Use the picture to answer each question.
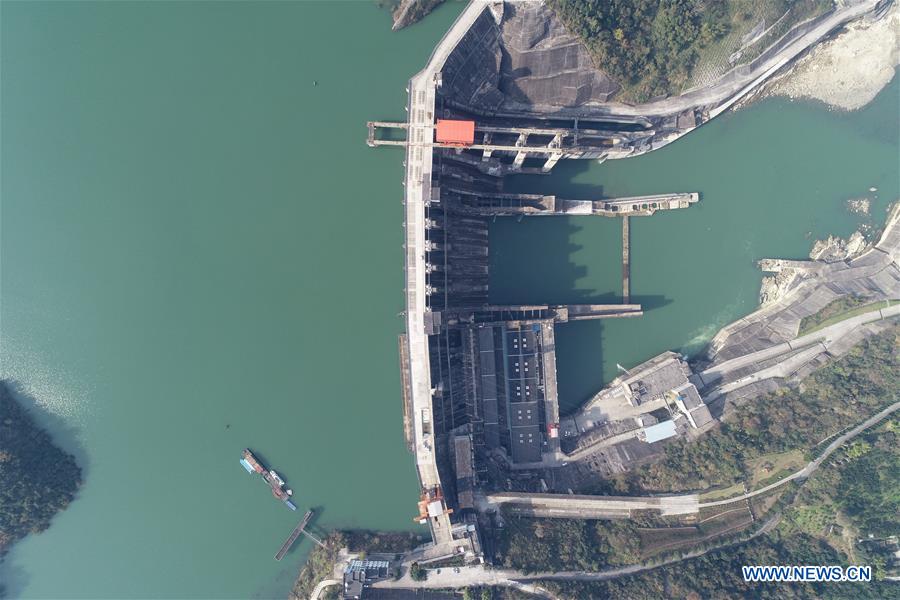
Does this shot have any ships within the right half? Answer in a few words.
No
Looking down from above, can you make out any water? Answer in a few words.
Yes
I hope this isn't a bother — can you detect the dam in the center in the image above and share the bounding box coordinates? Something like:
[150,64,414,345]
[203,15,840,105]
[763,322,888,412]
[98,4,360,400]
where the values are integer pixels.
[399,0,504,548]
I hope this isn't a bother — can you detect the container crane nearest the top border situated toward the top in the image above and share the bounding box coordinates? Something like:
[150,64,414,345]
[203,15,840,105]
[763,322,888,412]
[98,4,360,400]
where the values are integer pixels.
[436,119,475,147]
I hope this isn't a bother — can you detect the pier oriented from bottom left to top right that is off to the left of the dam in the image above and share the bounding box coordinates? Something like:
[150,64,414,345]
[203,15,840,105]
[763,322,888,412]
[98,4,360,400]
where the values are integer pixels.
[272,510,313,560]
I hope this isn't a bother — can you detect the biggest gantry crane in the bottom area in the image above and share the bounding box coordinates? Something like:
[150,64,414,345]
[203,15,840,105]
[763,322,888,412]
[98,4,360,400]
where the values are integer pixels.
[410,488,446,525]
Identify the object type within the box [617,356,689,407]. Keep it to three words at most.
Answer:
building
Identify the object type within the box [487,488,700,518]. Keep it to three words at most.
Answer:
bridge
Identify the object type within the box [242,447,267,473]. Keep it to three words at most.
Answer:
ship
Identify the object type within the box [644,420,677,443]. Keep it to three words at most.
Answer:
shed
